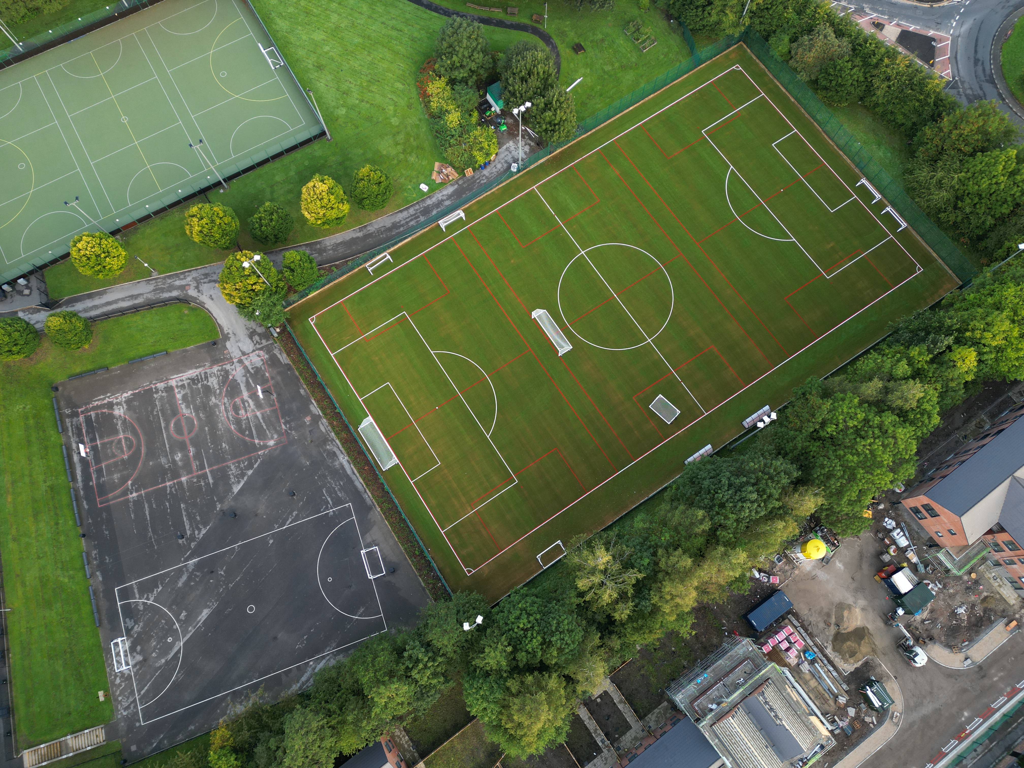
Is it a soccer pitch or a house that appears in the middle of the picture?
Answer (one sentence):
Looking in the middle of the picture, you will find a soccer pitch.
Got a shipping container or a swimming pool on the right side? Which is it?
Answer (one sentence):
The one visible on the right side is a shipping container.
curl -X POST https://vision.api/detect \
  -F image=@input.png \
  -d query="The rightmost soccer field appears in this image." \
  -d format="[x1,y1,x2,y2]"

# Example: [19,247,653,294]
[286,43,955,604]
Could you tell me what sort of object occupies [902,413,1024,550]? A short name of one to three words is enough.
house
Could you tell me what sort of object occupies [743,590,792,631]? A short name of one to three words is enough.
shipping container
